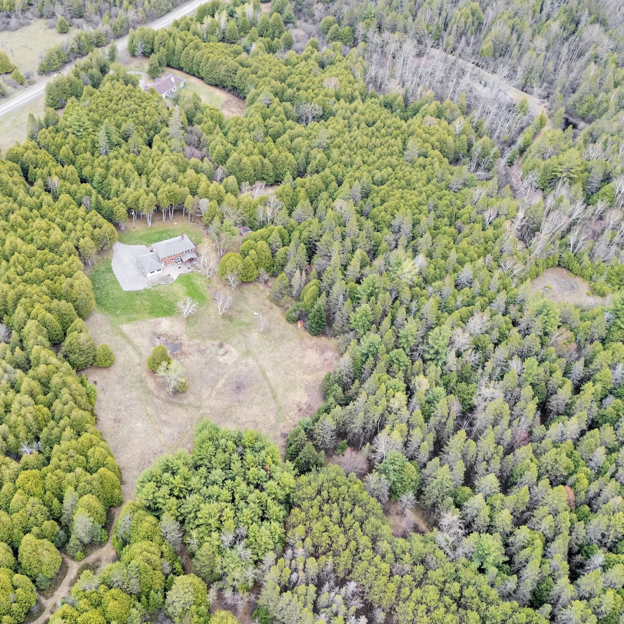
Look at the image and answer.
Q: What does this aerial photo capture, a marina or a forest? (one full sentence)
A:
This image shows a forest.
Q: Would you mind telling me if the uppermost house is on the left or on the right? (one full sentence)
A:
It is on the left.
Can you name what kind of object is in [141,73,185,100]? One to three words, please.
house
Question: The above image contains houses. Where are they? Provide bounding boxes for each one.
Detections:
[140,233,199,281]
[141,73,185,100]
